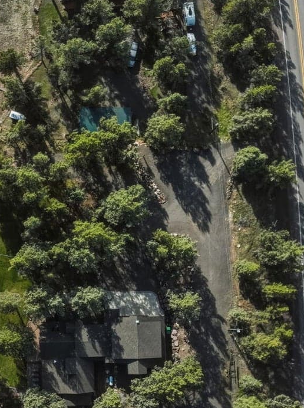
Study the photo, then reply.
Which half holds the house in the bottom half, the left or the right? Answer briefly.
left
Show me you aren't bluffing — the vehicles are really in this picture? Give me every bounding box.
[187,31,199,57]
[126,40,138,69]
[182,0,196,27]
